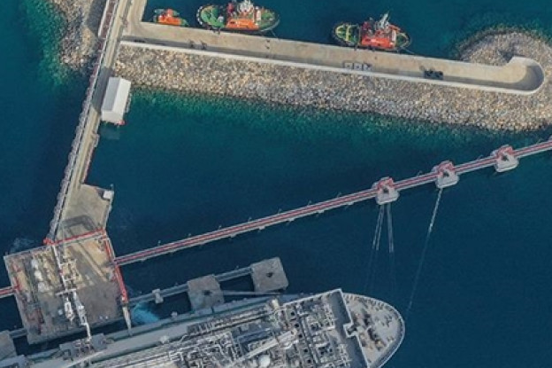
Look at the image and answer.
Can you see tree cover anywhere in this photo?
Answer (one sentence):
No, tree cover can't be seen anywhere here.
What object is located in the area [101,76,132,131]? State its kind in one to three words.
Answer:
shed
